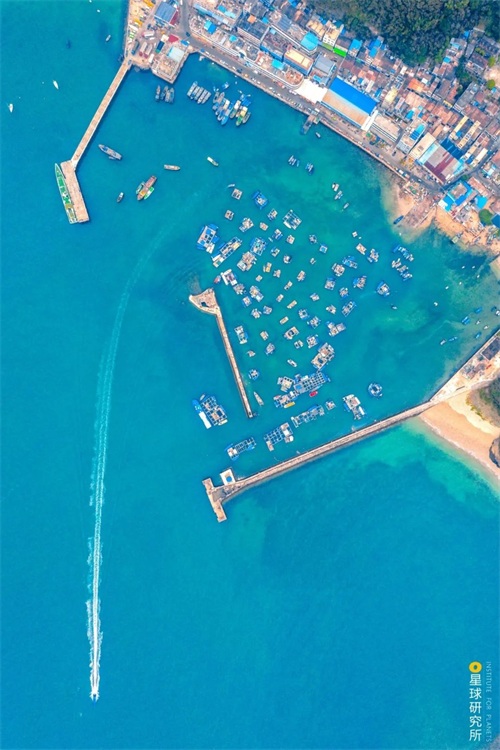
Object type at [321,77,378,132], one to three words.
building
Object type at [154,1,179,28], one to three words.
house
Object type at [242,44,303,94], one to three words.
building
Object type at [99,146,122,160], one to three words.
boat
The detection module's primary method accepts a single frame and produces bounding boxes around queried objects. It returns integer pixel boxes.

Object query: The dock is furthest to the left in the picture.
[61,61,133,223]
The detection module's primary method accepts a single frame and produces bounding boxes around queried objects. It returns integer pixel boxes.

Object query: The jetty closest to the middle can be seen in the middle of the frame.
[190,289,255,417]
